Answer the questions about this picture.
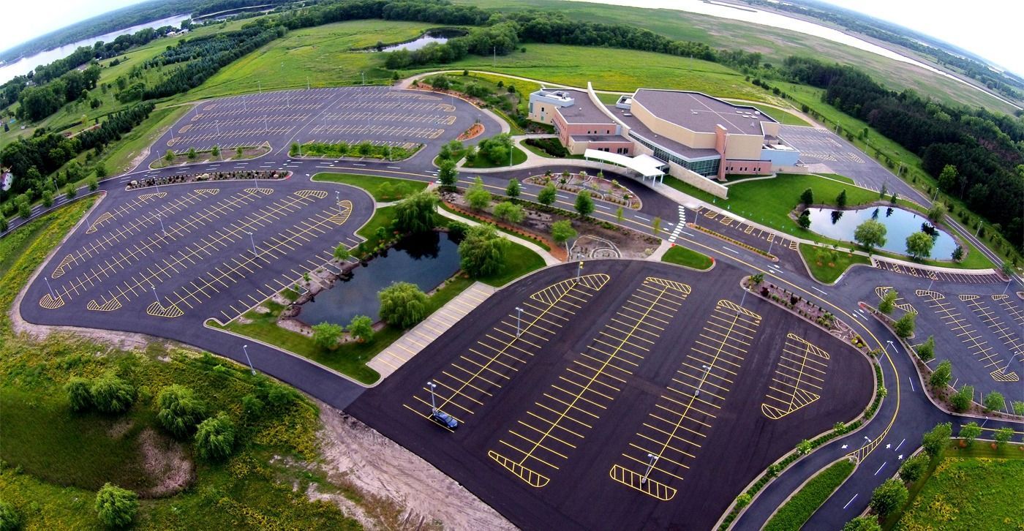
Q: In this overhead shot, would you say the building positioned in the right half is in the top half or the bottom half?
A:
top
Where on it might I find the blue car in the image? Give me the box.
[431,409,456,426]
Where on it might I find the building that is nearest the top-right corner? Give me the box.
[526,78,809,199]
